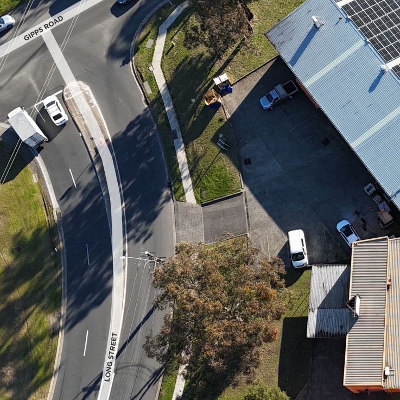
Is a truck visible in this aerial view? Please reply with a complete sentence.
Yes, there's a truck down there.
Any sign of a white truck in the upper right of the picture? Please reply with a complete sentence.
No, the scene shows no white truck in the upper right of the picture.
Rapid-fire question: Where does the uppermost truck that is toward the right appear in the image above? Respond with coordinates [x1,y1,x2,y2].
[260,81,298,108]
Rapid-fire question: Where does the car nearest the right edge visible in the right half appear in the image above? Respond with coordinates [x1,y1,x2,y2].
[338,219,361,249]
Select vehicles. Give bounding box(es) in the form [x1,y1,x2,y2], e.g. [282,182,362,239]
[288,227,308,269]
[338,219,361,249]
[0,17,17,34]
[260,81,298,108]
[7,106,45,150]
[44,97,68,125]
